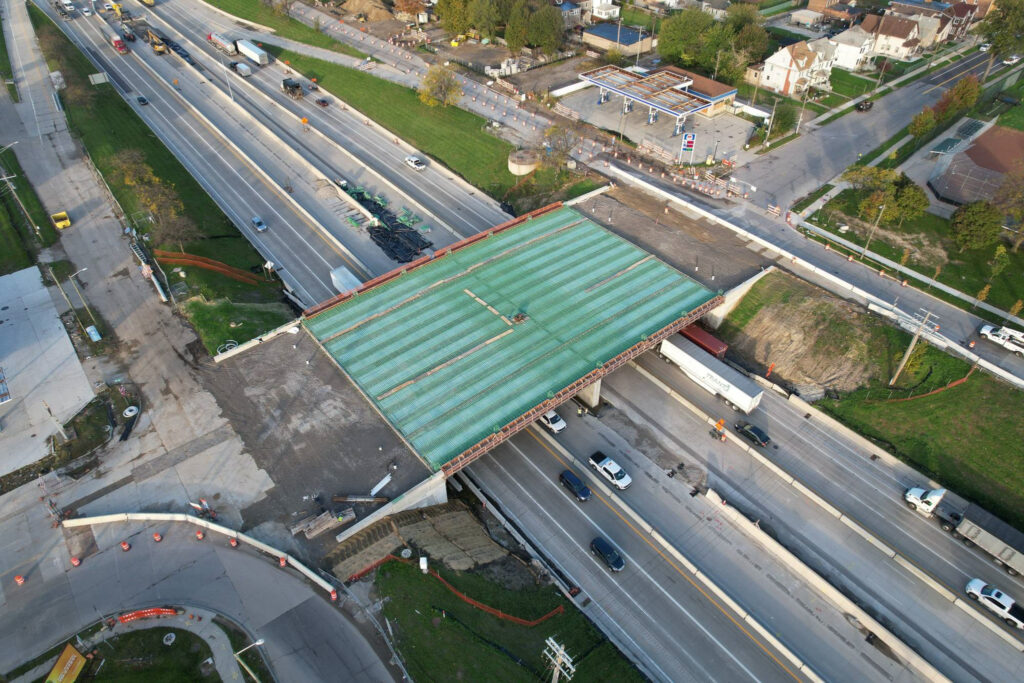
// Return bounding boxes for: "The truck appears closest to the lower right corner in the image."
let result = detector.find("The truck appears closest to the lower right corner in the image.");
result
[961,575,1024,633]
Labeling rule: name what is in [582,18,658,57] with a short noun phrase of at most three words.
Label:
building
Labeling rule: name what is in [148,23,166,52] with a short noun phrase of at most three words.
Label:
work vehicle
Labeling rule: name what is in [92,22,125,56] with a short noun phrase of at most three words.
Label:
truck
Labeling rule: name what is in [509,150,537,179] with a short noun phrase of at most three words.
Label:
storage tank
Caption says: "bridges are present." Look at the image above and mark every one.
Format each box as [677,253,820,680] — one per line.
[300,199,729,482]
